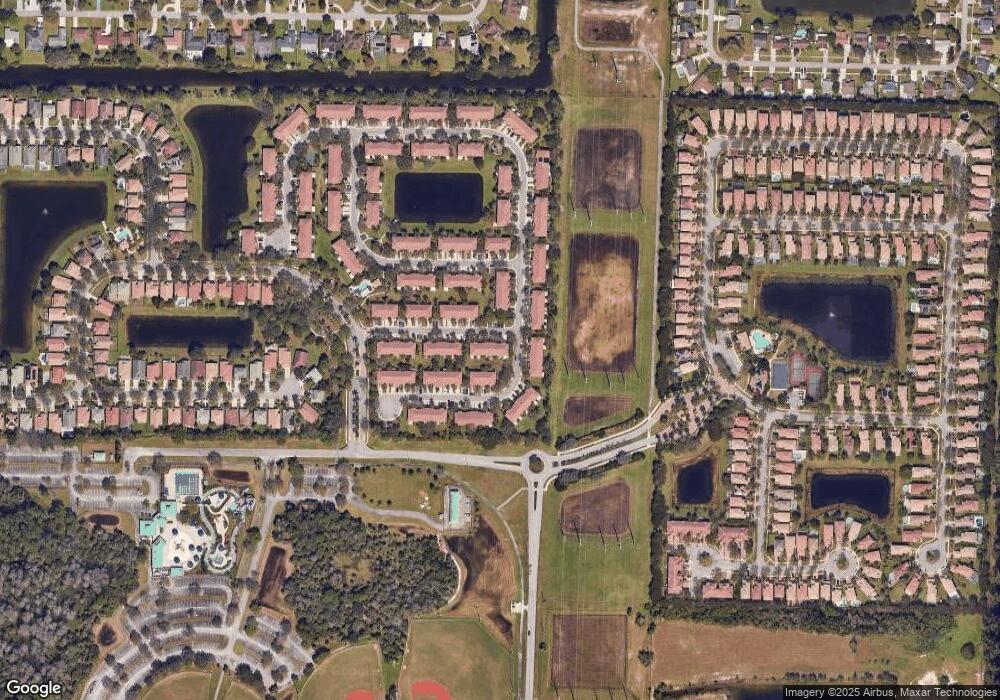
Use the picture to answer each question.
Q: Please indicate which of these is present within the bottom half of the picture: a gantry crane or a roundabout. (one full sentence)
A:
You can see a roundabout within the bottom half of the picture.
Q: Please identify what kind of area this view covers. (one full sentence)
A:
The picture captures a residential area.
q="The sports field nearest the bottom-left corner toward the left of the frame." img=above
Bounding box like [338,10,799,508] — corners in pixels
[137,666,209,700]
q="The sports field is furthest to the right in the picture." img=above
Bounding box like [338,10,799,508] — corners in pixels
[402,620,513,700]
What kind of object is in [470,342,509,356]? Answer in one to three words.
house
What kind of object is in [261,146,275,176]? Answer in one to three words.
house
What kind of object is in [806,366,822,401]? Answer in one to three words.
tennis court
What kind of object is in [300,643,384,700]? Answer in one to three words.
sports field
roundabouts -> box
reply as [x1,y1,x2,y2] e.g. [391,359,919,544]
[494,449,558,511]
